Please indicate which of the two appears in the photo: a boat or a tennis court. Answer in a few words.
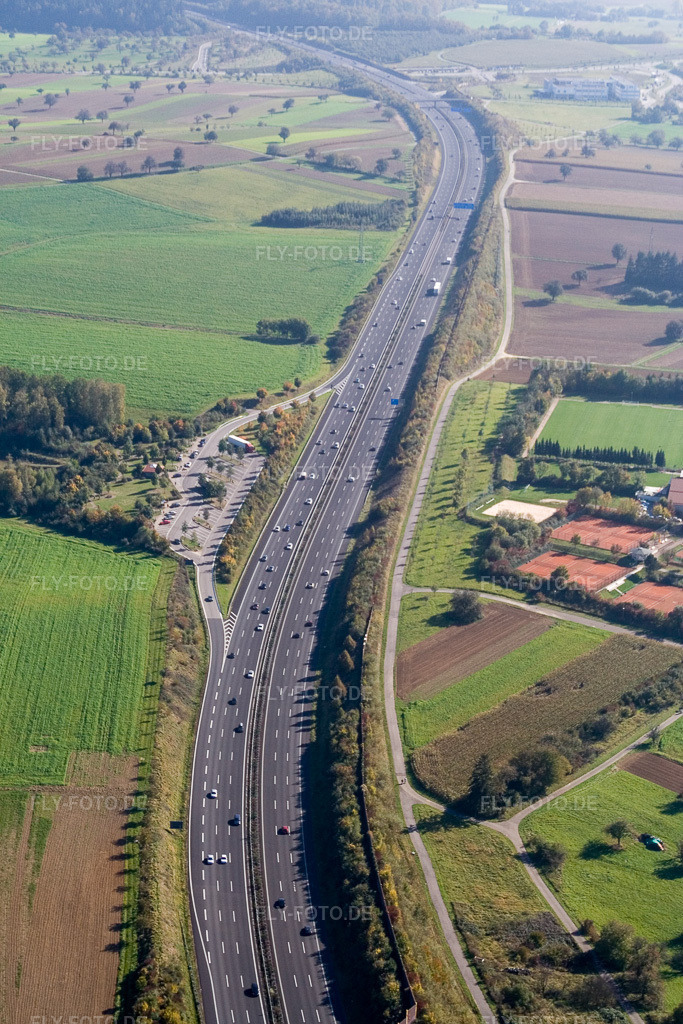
tennis court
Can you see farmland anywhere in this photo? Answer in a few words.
Yes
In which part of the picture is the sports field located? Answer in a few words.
right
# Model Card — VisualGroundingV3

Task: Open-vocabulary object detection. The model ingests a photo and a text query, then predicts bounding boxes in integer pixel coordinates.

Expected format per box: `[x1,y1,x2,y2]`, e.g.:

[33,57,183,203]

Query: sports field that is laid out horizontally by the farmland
[530,397,683,463]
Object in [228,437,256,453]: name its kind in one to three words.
vehicle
